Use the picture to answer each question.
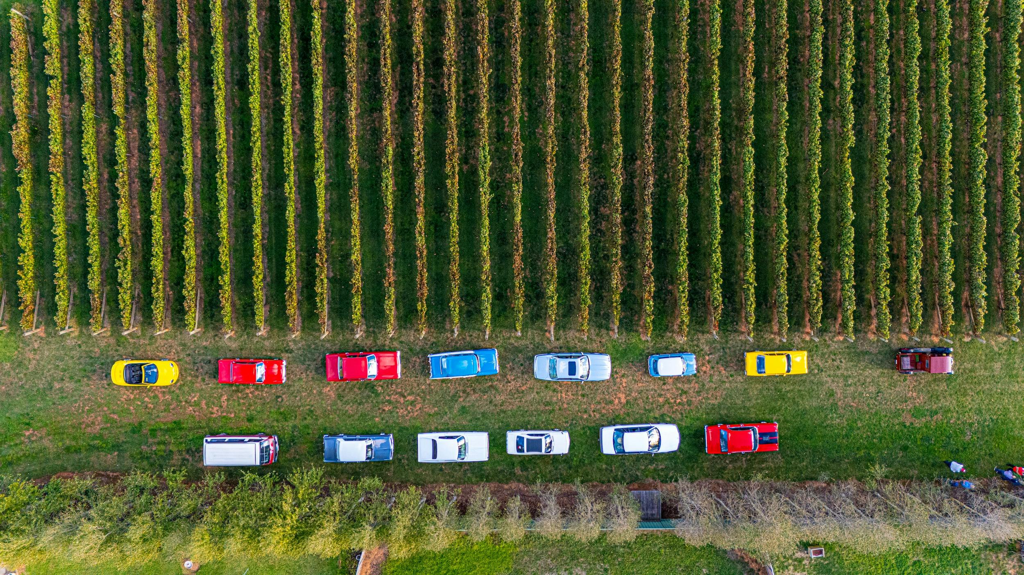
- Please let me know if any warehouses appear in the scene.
No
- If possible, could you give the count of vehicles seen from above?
14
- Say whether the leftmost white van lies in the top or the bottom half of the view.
bottom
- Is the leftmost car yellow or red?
yellow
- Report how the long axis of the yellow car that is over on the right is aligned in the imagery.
from left to right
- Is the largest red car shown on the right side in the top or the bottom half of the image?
bottom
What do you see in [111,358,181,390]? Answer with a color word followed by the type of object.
yellow car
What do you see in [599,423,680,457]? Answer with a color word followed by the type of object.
white car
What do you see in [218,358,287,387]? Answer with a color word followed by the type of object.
red car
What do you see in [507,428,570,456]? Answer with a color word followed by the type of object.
white car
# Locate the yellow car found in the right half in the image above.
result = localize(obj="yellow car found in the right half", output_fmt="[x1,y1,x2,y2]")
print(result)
[744,350,808,378]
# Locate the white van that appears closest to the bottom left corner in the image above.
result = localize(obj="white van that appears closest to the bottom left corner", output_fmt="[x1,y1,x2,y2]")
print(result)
[204,436,280,468]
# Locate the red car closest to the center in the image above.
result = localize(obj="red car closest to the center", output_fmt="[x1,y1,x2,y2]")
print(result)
[326,351,401,381]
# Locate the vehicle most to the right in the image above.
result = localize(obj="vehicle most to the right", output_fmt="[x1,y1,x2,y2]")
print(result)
[896,348,952,375]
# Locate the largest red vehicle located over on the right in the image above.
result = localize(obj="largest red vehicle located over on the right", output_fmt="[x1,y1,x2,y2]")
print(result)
[704,421,779,453]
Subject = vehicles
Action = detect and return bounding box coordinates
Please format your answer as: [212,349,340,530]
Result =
[648,352,697,377]
[507,428,570,456]
[218,358,287,387]
[534,351,611,384]
[111,358,181,390]
[426,348,500,380]
[326,351,401,381]
[323,433,394,464]
[599,423,680,457]
[896,348,952,375]
[204,436,280,468]
[744,350,808,378]
[418,430,489,465]
[704,421,779,453]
